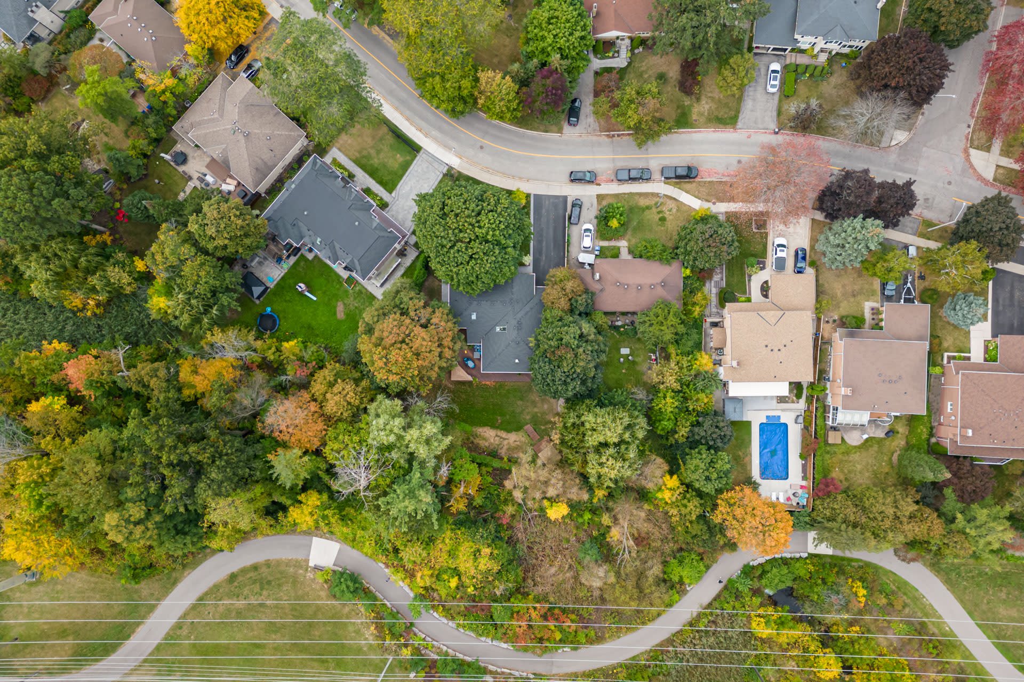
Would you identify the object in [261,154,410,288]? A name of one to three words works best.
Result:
house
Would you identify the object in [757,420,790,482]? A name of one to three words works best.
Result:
swimming pool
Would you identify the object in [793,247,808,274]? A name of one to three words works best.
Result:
car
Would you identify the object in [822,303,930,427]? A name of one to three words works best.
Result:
house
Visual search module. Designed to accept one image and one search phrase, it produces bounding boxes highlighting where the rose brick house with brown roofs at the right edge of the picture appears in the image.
[933,335,1024,465]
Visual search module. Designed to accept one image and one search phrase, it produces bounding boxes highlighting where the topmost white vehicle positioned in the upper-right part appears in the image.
[766,62,782,92]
